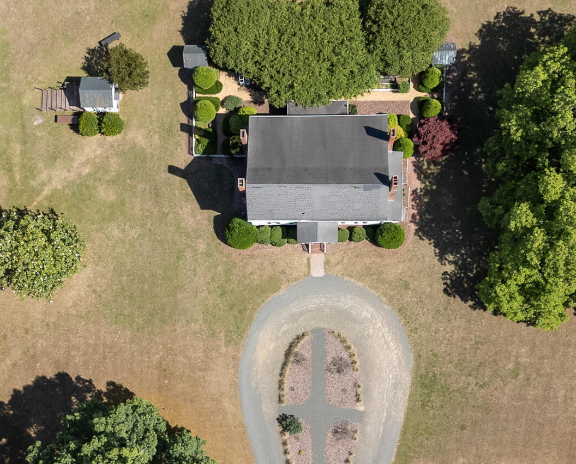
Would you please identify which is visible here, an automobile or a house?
house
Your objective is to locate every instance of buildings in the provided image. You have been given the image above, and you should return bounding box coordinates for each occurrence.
[183,46,209,72]
[77,78,118,111]
[431,43,457,70]
[238,100,404,255]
